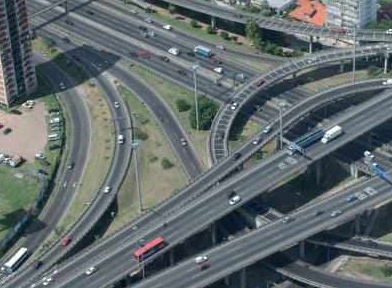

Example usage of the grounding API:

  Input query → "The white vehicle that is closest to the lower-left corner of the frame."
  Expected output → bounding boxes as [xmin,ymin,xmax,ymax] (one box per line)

[5,246,26,272]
